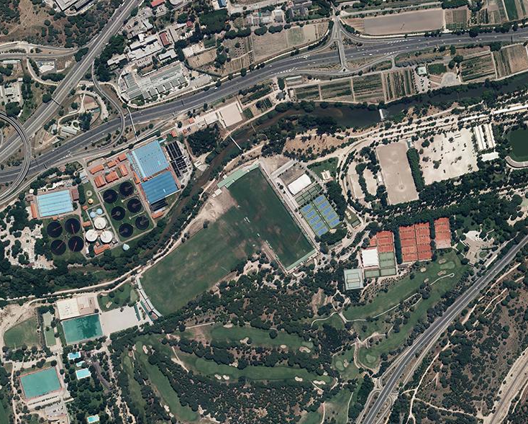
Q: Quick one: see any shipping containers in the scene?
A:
No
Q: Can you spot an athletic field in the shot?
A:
Yes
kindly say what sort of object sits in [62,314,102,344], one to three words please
sports field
